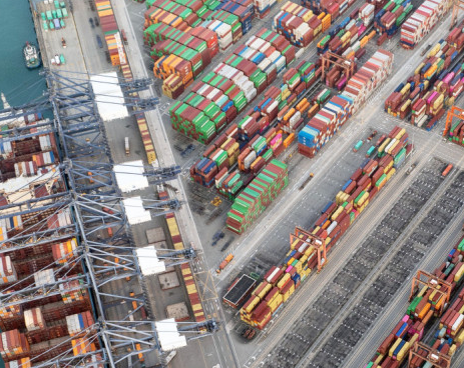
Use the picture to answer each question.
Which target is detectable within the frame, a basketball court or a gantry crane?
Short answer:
gantry crane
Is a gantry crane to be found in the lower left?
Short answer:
Yes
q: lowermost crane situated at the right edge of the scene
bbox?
[407,339,451,368]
